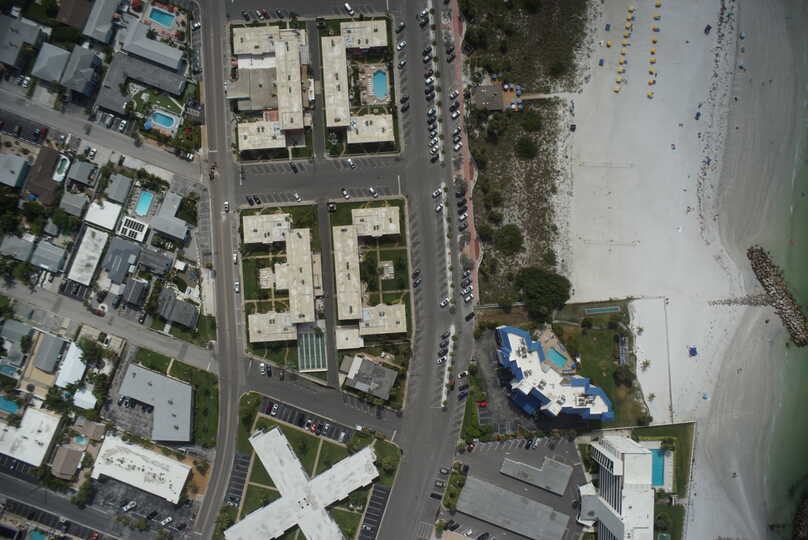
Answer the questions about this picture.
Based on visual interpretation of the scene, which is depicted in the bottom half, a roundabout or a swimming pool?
swimming pool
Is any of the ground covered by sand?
Yes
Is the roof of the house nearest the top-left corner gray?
Yes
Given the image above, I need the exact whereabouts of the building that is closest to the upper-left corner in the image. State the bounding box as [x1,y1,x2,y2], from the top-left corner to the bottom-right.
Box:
[0,13,43,67]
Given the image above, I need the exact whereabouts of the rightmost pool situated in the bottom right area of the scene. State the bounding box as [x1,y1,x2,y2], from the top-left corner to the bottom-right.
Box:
[647,448,665,486]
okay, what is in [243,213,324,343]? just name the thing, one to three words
building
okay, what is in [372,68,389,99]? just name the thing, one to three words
swimming pool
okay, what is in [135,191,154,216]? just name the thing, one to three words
swimming pool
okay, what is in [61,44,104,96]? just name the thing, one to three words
house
